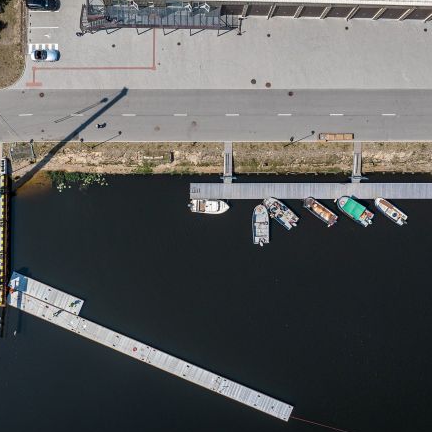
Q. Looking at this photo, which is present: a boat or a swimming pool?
boat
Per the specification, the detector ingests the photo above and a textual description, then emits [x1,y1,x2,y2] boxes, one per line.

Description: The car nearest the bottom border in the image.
[32,48,59,62]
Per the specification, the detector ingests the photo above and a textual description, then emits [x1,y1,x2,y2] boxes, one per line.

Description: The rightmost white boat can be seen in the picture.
[377,199,411,227]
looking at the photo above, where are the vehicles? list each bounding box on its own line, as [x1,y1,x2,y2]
[32,48,59,62]
[27,0,61,12]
